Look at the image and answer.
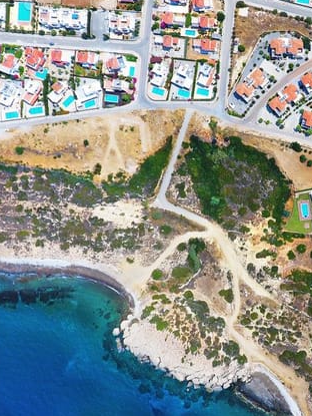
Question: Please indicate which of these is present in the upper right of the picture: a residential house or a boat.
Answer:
residential house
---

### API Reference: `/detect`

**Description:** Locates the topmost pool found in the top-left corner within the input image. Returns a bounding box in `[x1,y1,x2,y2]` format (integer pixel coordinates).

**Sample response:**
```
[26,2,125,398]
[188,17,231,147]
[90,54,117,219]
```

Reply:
[18,2,31,22]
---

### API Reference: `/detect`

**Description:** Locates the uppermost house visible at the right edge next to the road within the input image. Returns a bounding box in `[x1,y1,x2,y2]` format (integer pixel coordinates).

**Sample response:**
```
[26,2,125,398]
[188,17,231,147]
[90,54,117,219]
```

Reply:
[270,37,305,59]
